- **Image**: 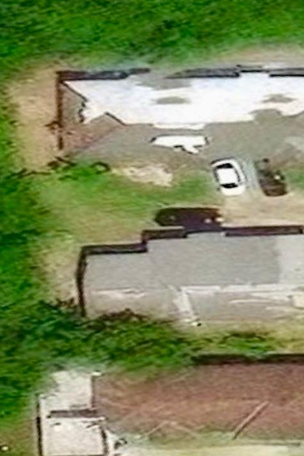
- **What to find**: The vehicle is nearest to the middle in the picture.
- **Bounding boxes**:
[156,206,222,230]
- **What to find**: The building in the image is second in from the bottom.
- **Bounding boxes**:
[85,231,304,324]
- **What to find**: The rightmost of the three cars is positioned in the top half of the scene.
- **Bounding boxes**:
[256,160,287,200]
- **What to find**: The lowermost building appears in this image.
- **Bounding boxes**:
[94,364,304,444]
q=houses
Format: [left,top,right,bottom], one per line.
[94,364,304,444]
[85,231,304,324]
[62,74,304,160]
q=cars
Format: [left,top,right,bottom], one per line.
[156,206,222,230]
[212,157,246,199]
[256,160,287,200]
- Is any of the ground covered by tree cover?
Yes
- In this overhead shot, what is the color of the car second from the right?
white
